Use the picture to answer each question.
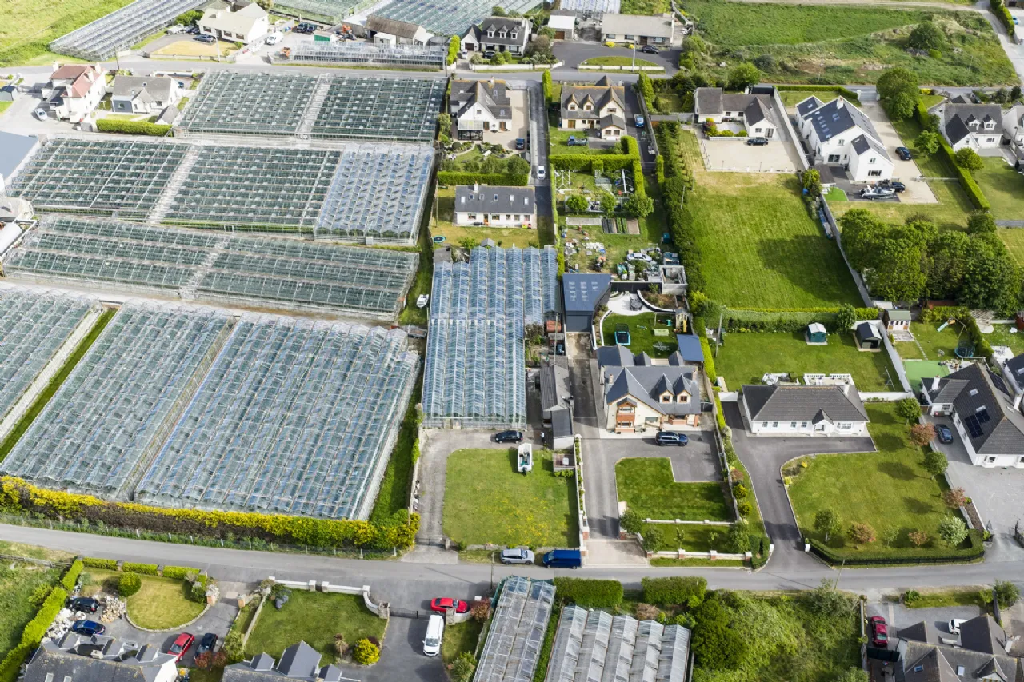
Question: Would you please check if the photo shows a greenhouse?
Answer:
Yes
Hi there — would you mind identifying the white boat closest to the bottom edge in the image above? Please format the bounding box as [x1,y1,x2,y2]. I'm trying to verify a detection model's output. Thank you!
[516,439,533,471]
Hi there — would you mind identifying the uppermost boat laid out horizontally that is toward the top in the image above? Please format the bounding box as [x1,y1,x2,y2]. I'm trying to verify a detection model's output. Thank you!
[859,185,896,198]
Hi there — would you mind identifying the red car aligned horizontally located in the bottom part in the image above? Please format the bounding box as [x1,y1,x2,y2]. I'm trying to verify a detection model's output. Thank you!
[428,595,469,613]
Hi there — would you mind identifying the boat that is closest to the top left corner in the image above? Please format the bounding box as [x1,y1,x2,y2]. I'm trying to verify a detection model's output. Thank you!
[416,291,429,310]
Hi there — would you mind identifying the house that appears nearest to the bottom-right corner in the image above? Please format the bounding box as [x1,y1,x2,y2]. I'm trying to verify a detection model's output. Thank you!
[890,611,1023,682]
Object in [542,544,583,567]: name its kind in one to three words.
vehicle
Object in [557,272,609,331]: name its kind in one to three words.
building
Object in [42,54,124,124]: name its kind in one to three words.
house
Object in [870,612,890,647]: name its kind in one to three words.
car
